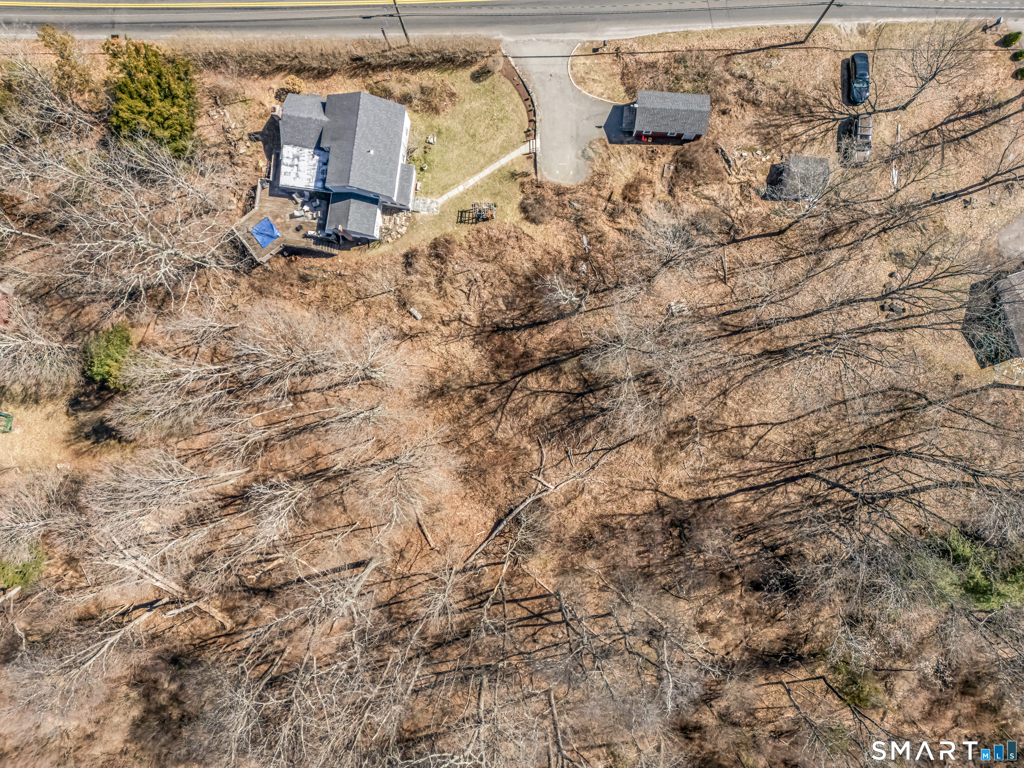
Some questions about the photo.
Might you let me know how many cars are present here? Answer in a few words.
2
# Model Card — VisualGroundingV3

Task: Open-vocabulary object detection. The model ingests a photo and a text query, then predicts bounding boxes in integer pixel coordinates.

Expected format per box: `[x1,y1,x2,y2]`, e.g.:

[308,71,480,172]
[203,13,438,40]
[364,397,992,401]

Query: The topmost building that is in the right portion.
[619,91,713,144]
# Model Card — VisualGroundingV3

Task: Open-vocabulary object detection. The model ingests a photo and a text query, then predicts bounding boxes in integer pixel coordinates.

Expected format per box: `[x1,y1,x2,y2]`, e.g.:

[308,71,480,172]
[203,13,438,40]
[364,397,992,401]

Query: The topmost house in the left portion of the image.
[270,89,417,243]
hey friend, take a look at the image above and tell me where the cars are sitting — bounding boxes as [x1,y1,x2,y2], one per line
[845,53,874,107]
[847,115,876,168]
